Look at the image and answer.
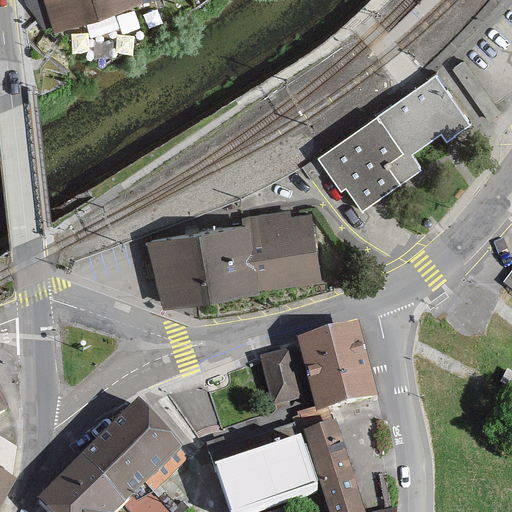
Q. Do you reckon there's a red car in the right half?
Yes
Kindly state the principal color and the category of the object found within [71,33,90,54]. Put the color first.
white umbrella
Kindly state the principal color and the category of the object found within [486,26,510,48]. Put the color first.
white car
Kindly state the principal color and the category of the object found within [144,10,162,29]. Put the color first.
white umbrella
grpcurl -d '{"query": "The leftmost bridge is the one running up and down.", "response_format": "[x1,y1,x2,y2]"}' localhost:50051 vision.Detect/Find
[0,92,52,248]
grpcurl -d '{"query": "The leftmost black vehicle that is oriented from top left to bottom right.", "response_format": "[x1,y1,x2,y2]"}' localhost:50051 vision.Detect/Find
[289,170,311,192]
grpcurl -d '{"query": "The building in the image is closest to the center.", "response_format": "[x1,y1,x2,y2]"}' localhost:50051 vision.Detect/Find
[146,206,322,310]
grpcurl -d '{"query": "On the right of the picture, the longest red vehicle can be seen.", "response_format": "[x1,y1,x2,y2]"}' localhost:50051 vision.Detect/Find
[324,180,342,201]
